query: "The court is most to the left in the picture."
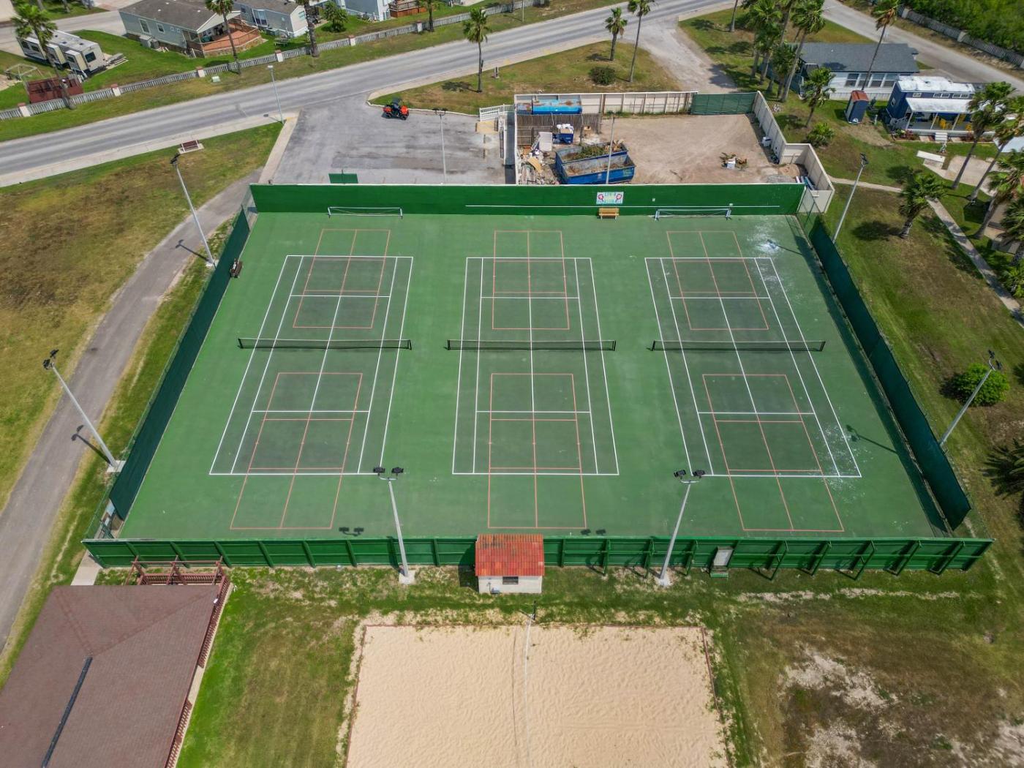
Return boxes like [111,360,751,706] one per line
[210,230,413,528]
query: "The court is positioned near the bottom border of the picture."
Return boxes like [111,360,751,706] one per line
[341,623,732,768]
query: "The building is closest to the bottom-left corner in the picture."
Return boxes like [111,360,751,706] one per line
[0,558,234,768]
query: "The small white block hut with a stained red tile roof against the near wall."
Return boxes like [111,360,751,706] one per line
[474,529,546,593]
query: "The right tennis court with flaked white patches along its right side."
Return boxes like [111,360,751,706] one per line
[646,231,860,530]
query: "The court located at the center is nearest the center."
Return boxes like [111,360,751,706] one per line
[451,230,620,529]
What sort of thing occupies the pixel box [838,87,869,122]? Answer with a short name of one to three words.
shed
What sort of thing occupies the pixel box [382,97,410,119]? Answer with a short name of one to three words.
vehicle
